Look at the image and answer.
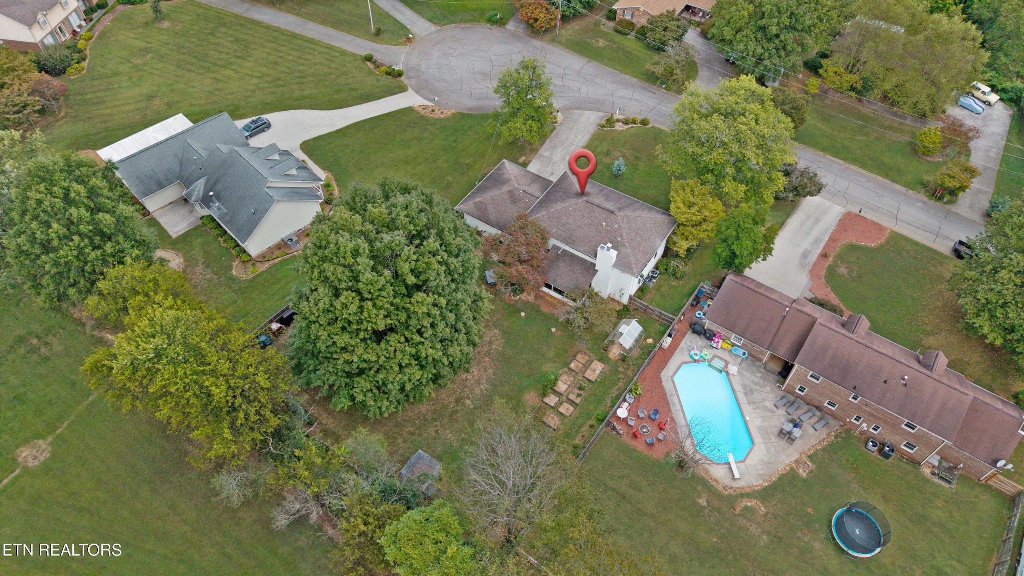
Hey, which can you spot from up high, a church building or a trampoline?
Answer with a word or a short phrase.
trampoline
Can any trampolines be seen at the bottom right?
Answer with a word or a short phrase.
Yes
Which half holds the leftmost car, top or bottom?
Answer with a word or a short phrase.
top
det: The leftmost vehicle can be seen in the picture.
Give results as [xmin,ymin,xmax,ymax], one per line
[238,114,271,138]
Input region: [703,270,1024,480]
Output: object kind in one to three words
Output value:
house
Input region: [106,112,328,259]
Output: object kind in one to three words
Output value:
house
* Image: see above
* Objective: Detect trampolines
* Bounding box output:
[826,502,892,564]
